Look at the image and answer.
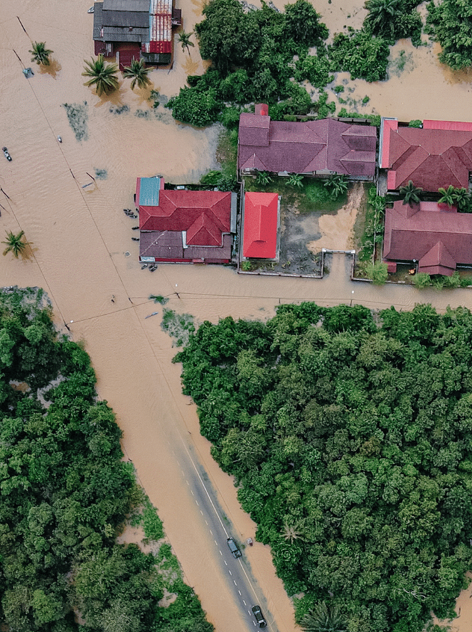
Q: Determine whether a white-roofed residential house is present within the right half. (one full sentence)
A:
No, there's no white-roofed residential house to be seen within the right half.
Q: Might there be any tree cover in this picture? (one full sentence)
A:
Yes, tree cover shows up in the scene.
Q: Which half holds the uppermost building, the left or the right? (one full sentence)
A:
You can find the uppermost building on the left side of the picture.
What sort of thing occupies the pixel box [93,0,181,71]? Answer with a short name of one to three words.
building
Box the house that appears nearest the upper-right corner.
[379,118,472,192]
